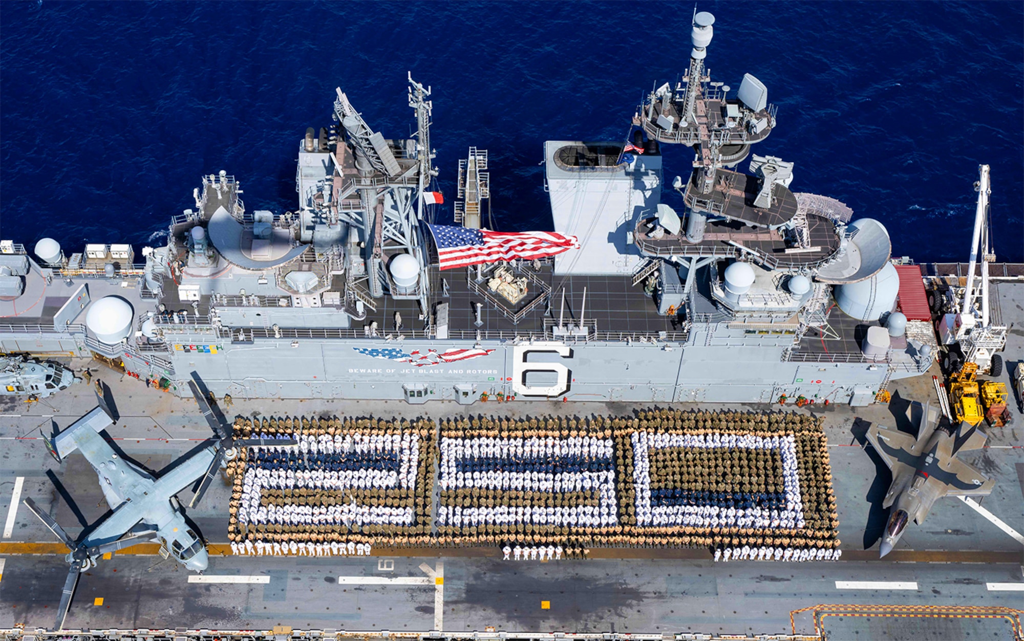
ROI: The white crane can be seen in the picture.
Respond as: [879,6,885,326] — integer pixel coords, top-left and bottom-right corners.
[933,164,1011,381]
